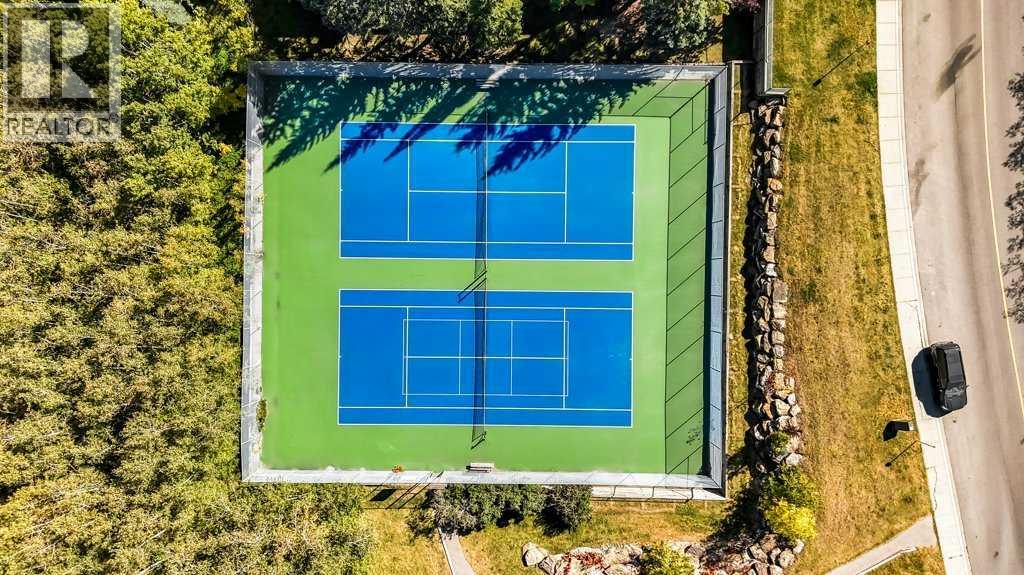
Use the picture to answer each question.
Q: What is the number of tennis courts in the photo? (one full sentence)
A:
Looking from above, you can make out 2 tennis courts.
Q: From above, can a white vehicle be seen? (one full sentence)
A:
No, there is no white vehicle in the image.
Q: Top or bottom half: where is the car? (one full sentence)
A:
The car sits in the bottom half of the picture.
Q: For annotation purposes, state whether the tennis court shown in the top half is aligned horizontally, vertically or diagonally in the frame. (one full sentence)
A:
The tennis court shown in the top half runs horizontally in the image.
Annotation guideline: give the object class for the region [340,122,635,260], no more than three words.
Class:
tennis court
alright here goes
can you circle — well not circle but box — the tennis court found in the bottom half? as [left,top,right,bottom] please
[338,289,634,427]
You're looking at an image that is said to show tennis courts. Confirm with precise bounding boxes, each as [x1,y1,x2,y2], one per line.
[340,122,635,260]
[338,289,634,427]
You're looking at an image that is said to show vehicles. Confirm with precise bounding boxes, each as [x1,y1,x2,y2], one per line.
[929,341,972,412]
